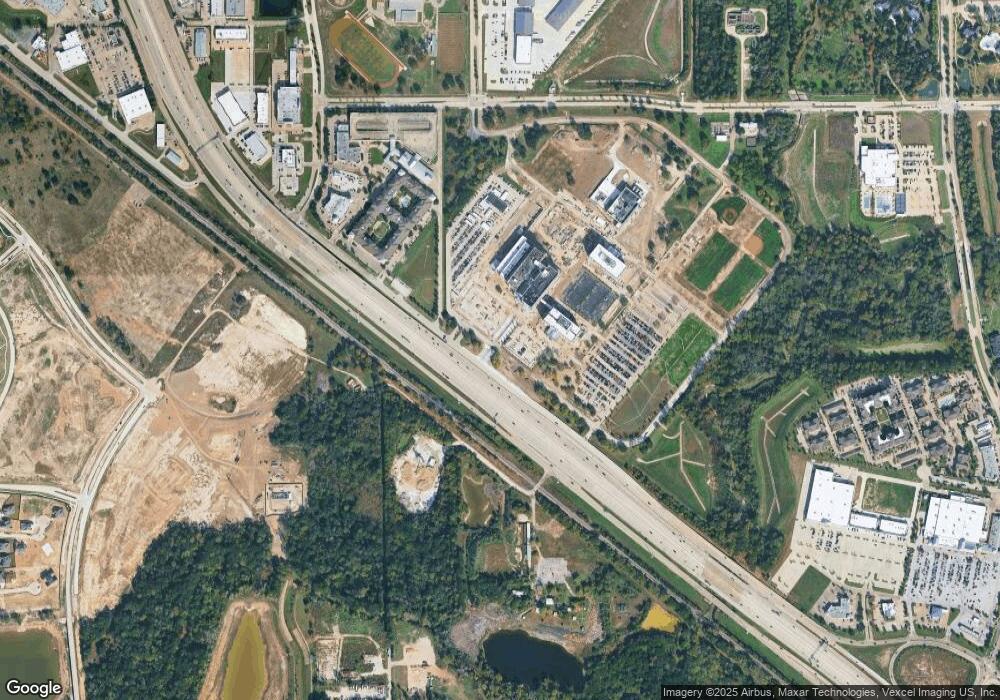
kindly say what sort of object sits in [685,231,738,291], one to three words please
sports field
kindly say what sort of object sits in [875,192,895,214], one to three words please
swimming pool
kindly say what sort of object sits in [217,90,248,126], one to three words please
building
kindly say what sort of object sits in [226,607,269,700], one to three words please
pond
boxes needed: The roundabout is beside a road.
[889,640,979,700]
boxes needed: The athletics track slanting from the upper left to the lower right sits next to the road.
[329,18,397,86]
